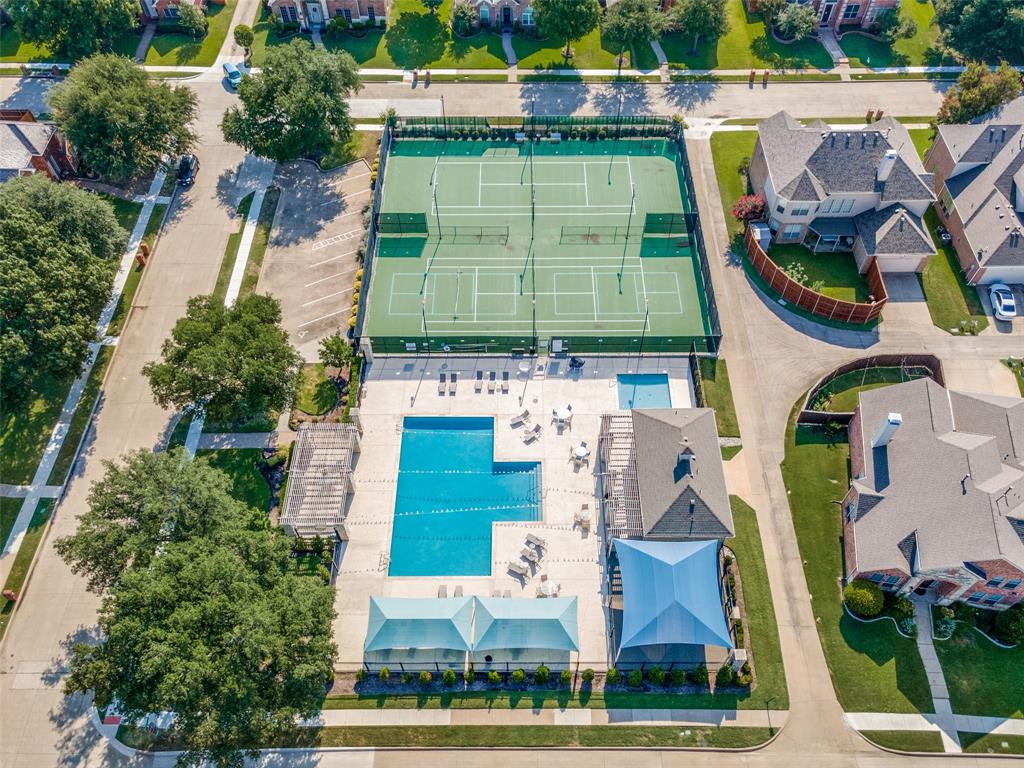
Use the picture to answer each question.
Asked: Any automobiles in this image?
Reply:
Yes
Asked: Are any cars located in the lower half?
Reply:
No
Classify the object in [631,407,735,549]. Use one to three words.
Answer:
building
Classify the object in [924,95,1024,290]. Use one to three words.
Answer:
house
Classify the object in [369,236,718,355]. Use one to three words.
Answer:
tennis court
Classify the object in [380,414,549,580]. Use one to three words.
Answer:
swimming pool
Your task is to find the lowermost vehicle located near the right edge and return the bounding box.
[986,285,1020,319]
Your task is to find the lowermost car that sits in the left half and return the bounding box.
[175,153,200,185]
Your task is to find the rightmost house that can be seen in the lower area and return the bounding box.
[842,377,1024,616]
